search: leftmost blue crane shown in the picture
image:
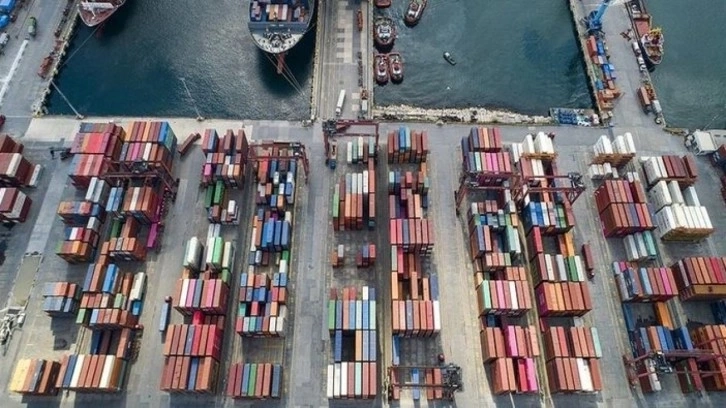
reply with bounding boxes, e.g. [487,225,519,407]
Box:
[578,0,612,37]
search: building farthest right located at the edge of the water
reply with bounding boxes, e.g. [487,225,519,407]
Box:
[691,123,726,152]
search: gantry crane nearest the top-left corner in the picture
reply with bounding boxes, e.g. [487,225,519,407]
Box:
[94,158,180,201]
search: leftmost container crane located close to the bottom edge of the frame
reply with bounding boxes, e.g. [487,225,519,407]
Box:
[386,362,470,400]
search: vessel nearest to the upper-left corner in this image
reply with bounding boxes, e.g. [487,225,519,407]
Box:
[77,0,139,31]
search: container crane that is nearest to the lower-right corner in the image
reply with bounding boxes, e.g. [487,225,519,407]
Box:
[622,348,726,387]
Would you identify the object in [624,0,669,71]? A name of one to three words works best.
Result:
ship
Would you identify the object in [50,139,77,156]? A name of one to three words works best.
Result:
work vehicle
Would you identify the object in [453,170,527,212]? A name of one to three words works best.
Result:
container crane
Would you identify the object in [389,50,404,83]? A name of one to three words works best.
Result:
boat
